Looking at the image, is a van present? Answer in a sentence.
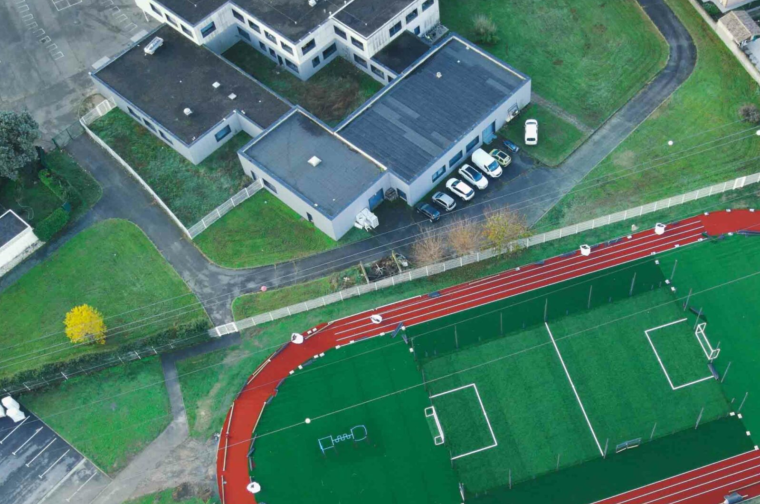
Yes, I can see a van in this picture.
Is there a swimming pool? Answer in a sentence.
No, no swimming pool is visible in the view.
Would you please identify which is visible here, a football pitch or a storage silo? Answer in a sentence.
This aerial view contains a football pitch.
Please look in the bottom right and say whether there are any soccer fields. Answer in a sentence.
Yes, you'll find a soccer field in the bottom right.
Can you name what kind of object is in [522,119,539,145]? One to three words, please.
car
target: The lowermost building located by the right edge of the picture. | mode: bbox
[718,11,760,55]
